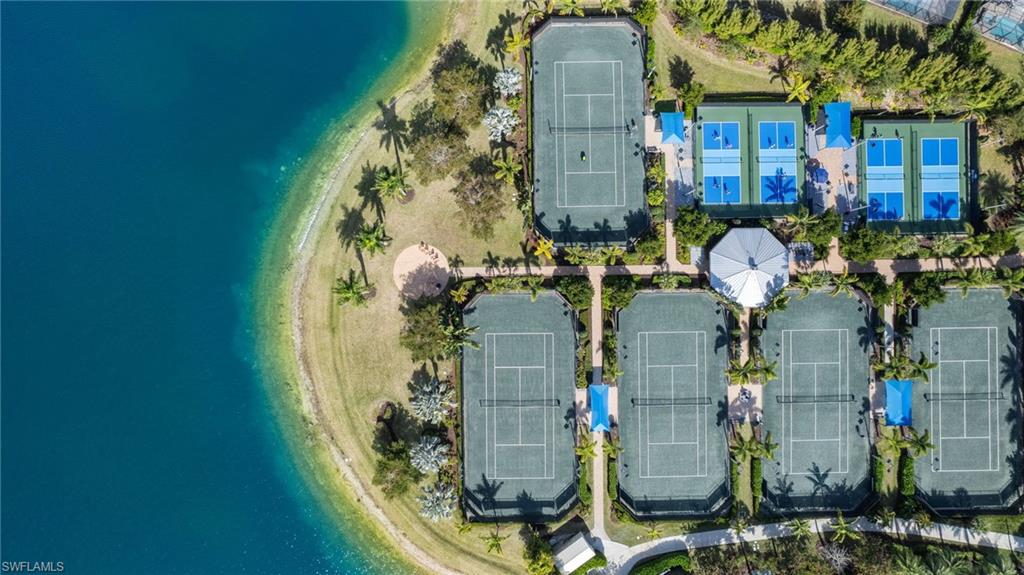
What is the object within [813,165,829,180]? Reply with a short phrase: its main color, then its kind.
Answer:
blue umbrella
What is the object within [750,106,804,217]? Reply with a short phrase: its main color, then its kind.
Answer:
blue sports court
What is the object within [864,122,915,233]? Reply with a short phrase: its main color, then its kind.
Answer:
blue sports court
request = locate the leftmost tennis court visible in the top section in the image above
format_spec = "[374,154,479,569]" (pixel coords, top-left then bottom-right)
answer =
[533,24,648,244]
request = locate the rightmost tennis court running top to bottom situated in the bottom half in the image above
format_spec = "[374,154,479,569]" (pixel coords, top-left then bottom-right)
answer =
[913,287,1020,508]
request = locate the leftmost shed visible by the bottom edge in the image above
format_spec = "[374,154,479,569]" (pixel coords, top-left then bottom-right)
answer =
[552,529,596,575]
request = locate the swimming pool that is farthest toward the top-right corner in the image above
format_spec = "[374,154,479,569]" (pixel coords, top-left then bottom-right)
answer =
[982,10,1024,47]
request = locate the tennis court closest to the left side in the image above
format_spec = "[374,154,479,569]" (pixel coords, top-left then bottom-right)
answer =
[463,292,577,513]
